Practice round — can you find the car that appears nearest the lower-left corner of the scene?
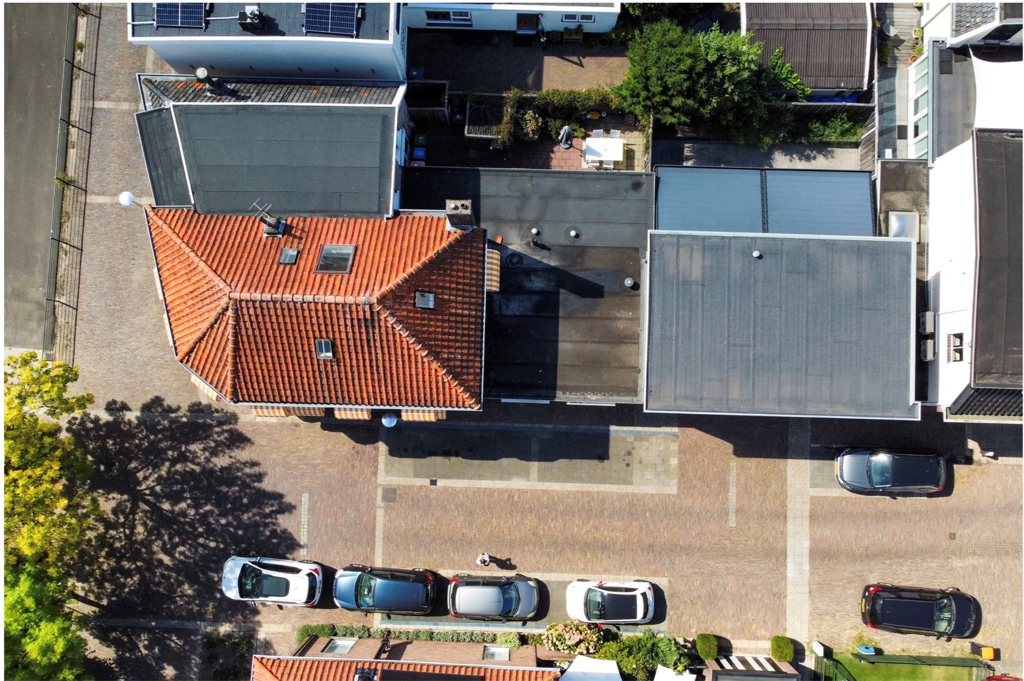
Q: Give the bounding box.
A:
[223,555,325,609]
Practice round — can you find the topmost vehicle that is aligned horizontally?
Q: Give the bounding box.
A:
[831,445,948,500]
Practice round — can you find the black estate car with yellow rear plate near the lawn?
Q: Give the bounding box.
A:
[857,582,973,639]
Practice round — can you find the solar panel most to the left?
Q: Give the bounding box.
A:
[153,0,210,31]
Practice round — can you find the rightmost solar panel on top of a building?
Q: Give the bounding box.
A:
[302,0,361,38]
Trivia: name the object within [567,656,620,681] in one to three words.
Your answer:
umbrella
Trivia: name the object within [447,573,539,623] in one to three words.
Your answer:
car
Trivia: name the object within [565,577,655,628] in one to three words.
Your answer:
car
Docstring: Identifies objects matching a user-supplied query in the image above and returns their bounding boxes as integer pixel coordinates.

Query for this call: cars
[447,573,539,623]
[332,562,438,616]
[565,577,655,628]
[857,582,973,639]
[831,445,948,500]
[223,555,325,609]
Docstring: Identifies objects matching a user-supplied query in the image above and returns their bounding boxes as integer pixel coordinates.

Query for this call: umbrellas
[656,665,695,681]
[559,136,572,153]
[567,656,620,681]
